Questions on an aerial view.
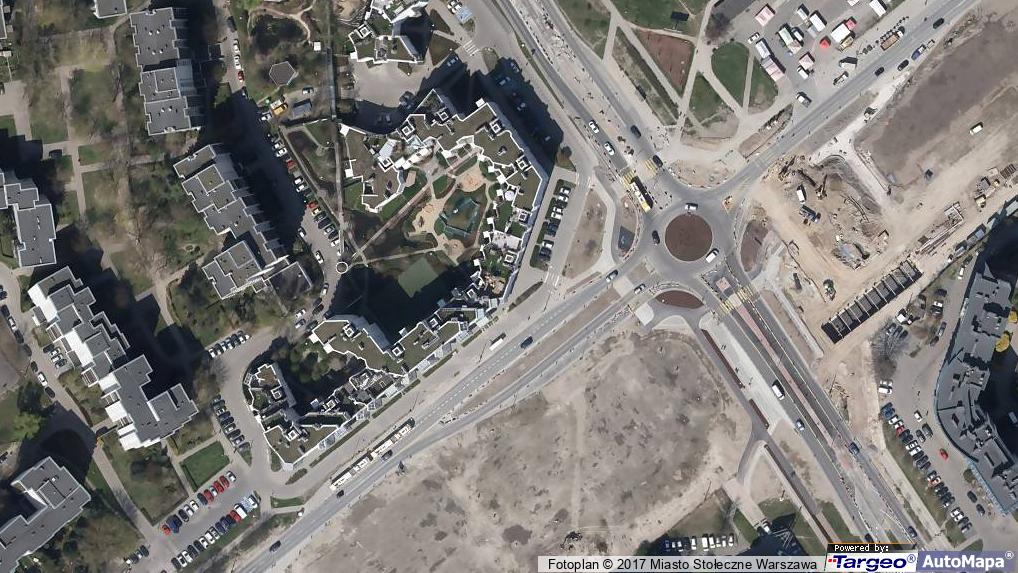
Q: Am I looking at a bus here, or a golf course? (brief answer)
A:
bus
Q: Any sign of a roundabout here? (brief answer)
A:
Yes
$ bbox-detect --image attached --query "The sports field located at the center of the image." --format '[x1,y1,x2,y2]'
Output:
[398,257,438,312]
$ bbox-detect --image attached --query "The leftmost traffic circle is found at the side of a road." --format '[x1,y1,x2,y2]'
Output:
[642,193,737,284]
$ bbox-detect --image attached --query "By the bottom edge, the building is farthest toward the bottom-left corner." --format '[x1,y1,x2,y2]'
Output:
[0,452,105,573]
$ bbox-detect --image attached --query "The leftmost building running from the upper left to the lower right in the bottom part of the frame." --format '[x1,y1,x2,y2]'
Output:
[28,265,211,451]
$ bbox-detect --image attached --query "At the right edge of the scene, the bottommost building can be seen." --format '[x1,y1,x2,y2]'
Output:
[931,271,1018,515]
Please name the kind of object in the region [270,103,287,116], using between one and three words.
vehicle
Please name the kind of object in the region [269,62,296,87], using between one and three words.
building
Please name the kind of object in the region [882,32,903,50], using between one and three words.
vehicle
